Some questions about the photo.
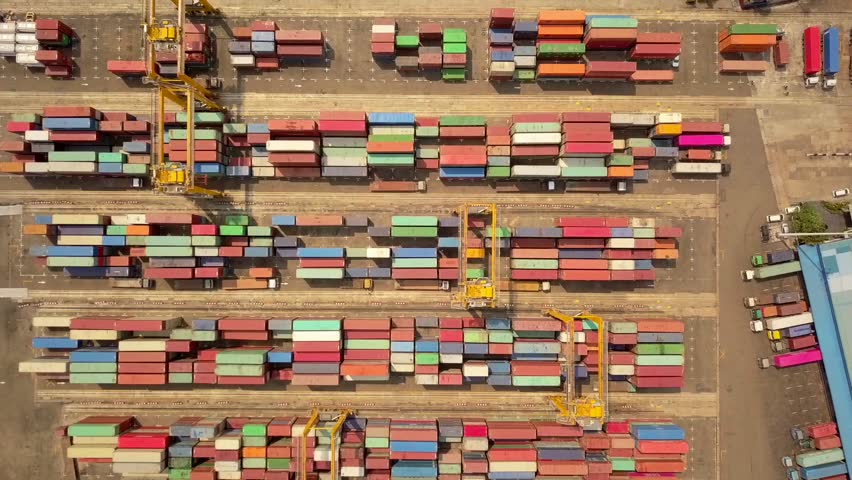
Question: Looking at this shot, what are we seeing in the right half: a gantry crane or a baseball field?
gantry crane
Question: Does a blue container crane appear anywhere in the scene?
No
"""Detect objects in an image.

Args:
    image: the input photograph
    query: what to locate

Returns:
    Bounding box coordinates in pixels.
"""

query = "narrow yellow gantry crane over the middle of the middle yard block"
[448,203,498,309]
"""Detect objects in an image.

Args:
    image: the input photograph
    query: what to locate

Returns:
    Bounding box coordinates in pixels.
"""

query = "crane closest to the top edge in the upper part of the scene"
[146,0,223,97]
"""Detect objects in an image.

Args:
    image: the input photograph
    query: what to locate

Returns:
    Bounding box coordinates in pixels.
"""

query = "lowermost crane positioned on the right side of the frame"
[542,307,607,428]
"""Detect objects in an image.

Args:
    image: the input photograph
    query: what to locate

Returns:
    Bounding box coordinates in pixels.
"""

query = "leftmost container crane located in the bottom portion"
[296,408,355,480]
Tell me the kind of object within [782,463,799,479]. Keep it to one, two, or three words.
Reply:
vehicle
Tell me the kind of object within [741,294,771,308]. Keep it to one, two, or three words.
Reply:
vehicle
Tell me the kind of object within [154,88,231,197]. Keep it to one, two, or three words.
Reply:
container crane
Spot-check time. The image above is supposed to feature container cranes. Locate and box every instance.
[542,307,607,428]
[448,203,498,309]
[154,88,231,197]
[146,0,223,97]
[296,408,355,480]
